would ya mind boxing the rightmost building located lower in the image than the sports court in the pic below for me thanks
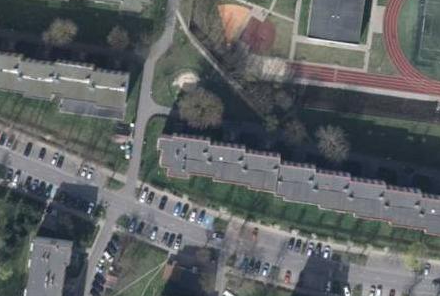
[158,133,440,233]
